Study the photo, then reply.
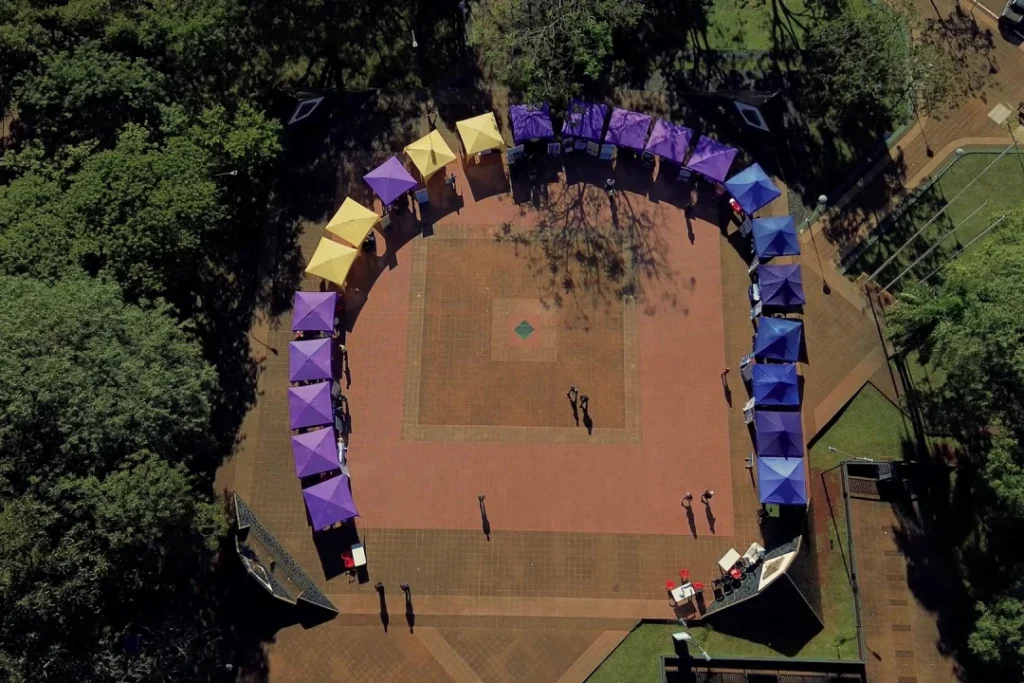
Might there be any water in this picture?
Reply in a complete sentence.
No, no water is visible.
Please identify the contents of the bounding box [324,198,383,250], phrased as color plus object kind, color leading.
yellow gazebo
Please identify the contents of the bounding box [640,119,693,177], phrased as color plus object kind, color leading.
purple gazebo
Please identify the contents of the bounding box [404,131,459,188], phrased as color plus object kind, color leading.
yellow gazebo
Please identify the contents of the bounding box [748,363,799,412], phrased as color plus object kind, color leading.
blue gazebo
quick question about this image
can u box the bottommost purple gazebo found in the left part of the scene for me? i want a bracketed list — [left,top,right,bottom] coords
[304,474,364,535]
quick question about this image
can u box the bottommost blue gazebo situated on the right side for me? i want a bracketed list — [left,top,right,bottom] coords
[752,458,806,508]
